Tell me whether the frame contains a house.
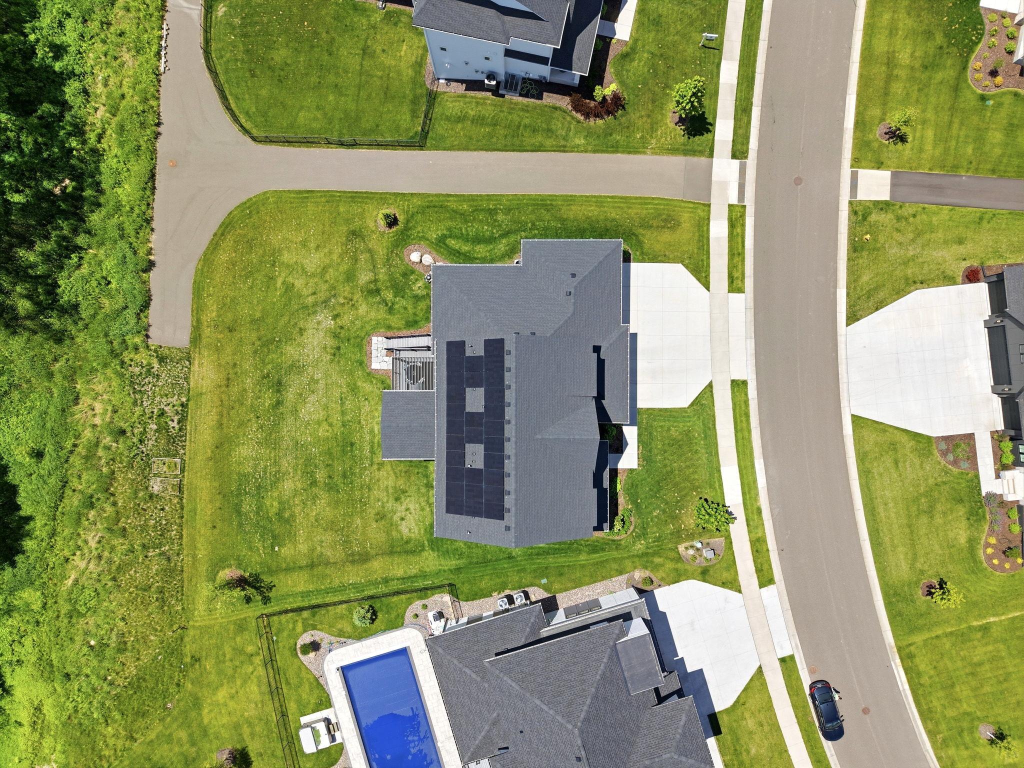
Yes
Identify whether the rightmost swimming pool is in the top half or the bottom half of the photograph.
bottom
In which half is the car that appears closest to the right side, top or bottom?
bottom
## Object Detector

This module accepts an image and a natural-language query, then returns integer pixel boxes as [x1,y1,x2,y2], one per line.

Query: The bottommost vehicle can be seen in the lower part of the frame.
[808,680,845,742]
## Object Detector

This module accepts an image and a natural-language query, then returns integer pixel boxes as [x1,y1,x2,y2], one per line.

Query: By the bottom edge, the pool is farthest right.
[337,642,445,768]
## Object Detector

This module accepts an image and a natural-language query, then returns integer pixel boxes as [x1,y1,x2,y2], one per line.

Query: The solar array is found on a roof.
[445,339,504,520]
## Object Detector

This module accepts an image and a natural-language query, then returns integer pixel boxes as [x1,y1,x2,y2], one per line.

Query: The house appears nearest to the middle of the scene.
[380,238,630,547]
